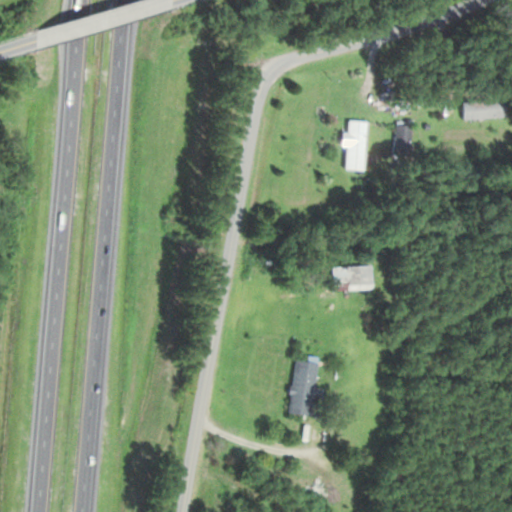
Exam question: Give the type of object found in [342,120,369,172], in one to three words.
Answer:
house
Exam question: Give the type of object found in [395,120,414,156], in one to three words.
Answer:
house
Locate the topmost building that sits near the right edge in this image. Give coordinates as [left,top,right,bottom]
[464,101,504,124]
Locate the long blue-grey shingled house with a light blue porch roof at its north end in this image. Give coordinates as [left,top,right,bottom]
[288,354,323,420]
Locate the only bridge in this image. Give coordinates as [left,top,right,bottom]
[34,0,176,51]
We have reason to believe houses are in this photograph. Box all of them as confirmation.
[342,120,369,172]
[464,101,504,124]
[332,265,376,297]
[288,354,323,420]
[395,120,414,156]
